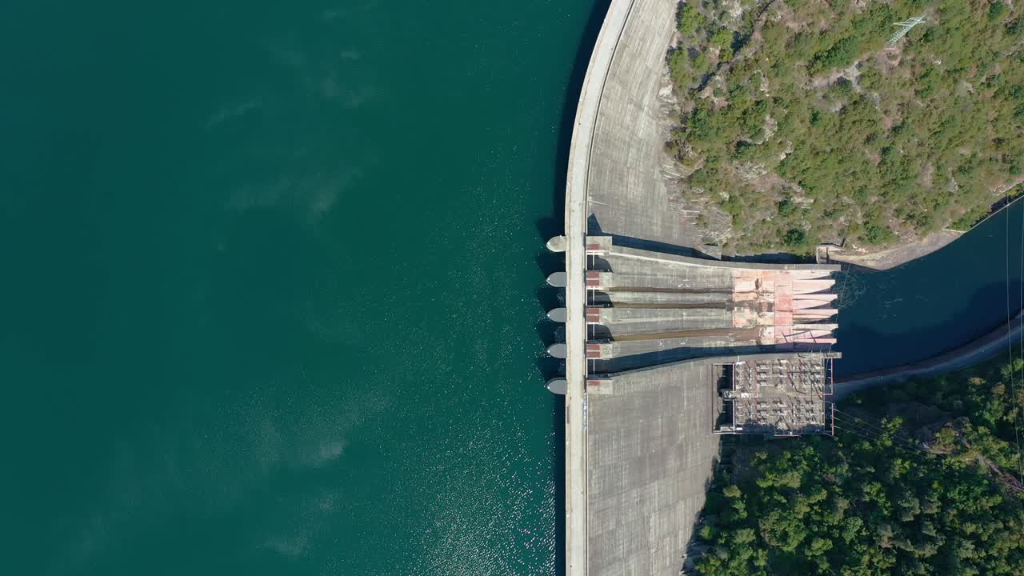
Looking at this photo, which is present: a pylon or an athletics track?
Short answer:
pylon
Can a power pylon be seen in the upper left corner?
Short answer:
No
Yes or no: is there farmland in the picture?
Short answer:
No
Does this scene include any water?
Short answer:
Yes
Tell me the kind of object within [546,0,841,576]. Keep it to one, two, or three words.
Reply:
dam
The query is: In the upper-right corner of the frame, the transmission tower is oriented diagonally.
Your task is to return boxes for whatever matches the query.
[882,16,930,52]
